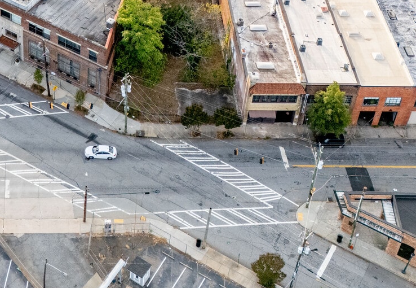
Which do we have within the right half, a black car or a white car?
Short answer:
black car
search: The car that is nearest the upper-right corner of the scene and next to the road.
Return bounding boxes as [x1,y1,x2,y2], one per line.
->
[312,131,351,149]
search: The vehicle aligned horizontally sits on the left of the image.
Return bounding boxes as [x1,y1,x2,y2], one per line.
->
[83,145,118,162]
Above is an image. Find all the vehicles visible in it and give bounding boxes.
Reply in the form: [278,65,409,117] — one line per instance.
[83,145,118,162]
[312,131,351,149]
